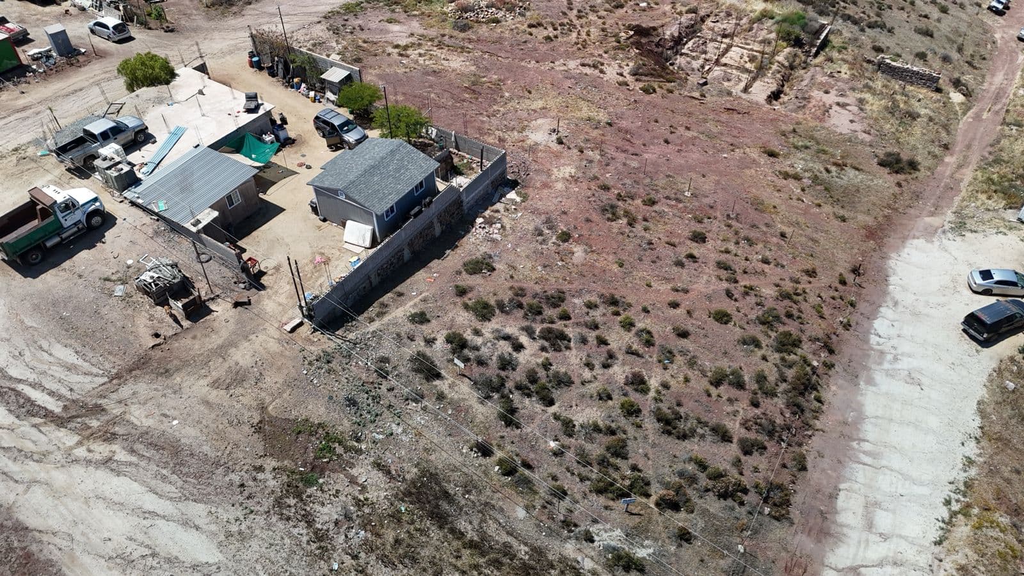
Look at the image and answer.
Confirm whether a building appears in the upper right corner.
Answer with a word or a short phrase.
No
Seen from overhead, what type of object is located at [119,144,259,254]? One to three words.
house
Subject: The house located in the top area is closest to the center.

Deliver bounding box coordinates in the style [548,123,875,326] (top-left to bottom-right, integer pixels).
[308,138,441,241]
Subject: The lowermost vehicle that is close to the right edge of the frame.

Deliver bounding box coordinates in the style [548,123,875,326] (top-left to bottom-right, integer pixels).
[968,294,1024,342]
